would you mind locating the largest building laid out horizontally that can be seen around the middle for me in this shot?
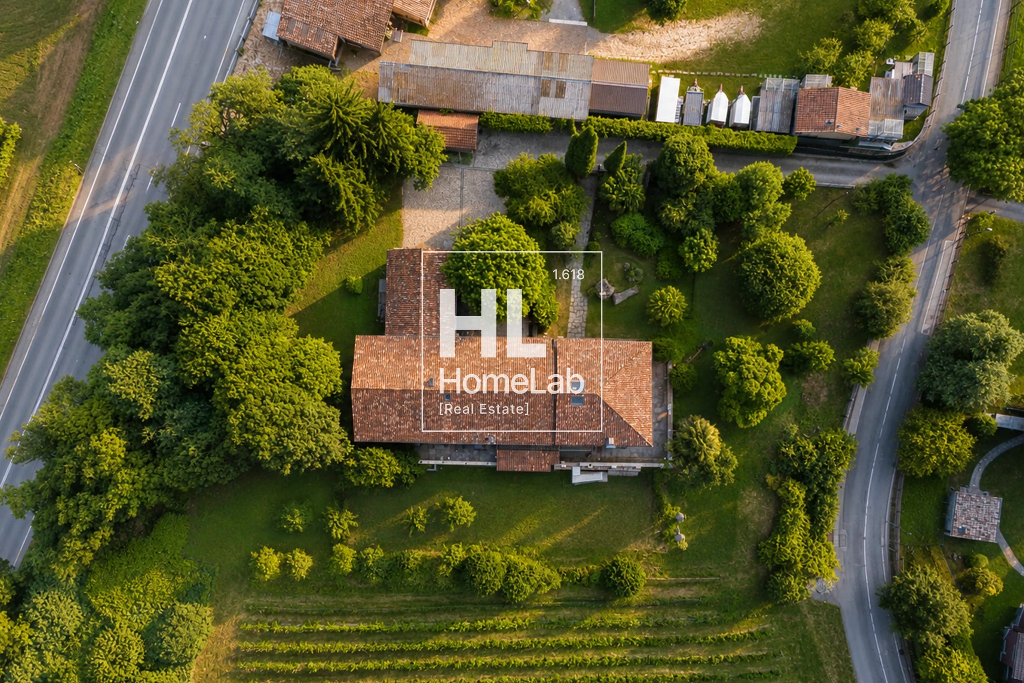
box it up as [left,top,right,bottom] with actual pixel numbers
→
[351,335,654,448]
